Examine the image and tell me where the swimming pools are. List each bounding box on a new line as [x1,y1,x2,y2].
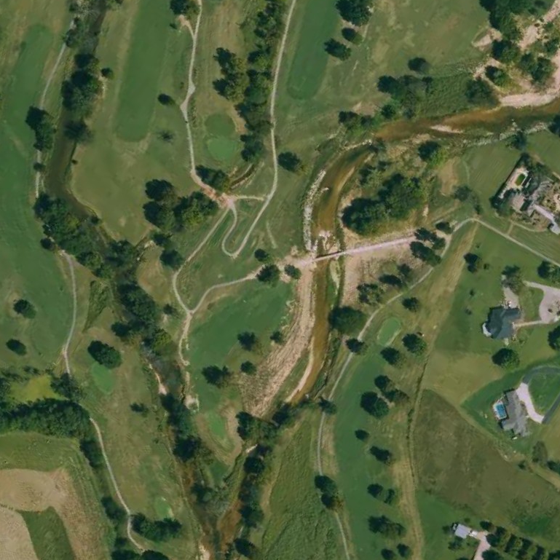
[513,173,527,188]
[494,403,504,419]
